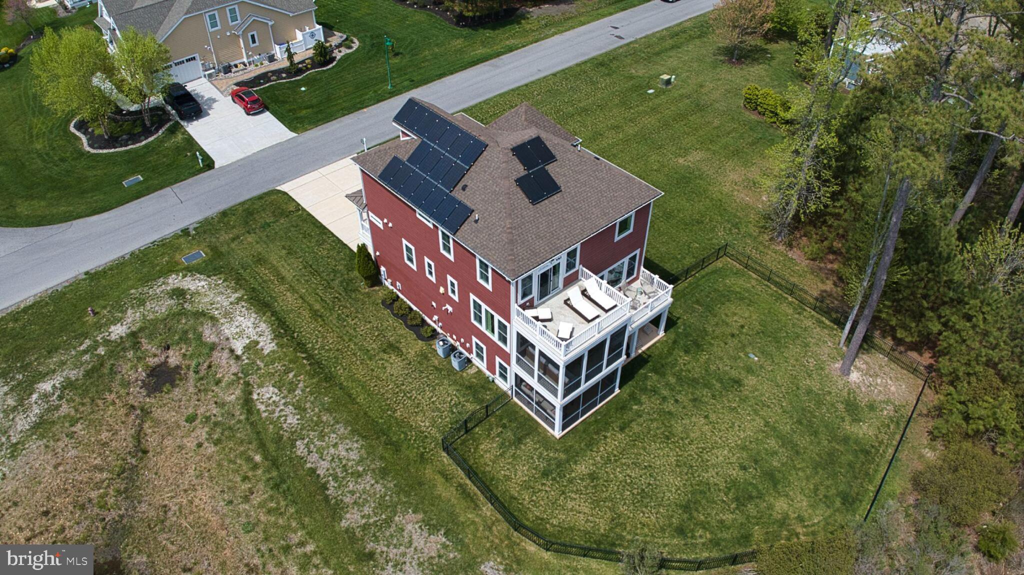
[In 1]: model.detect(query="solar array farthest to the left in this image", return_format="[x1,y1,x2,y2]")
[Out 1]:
[378,99,487,233]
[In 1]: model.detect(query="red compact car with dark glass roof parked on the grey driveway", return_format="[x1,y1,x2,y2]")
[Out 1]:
[230,83,263,110]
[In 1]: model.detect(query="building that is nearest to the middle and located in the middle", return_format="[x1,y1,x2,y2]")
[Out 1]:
[346,96,673,438]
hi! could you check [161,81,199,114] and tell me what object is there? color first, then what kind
black truck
